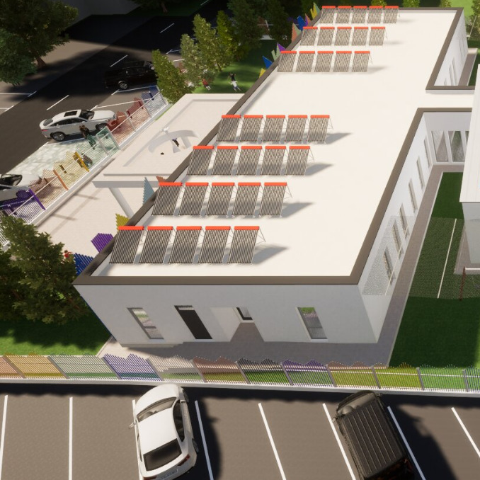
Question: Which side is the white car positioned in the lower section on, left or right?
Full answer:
It is on the left.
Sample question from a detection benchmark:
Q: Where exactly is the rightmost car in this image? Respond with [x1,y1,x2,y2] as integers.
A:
[336,396,420,480]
